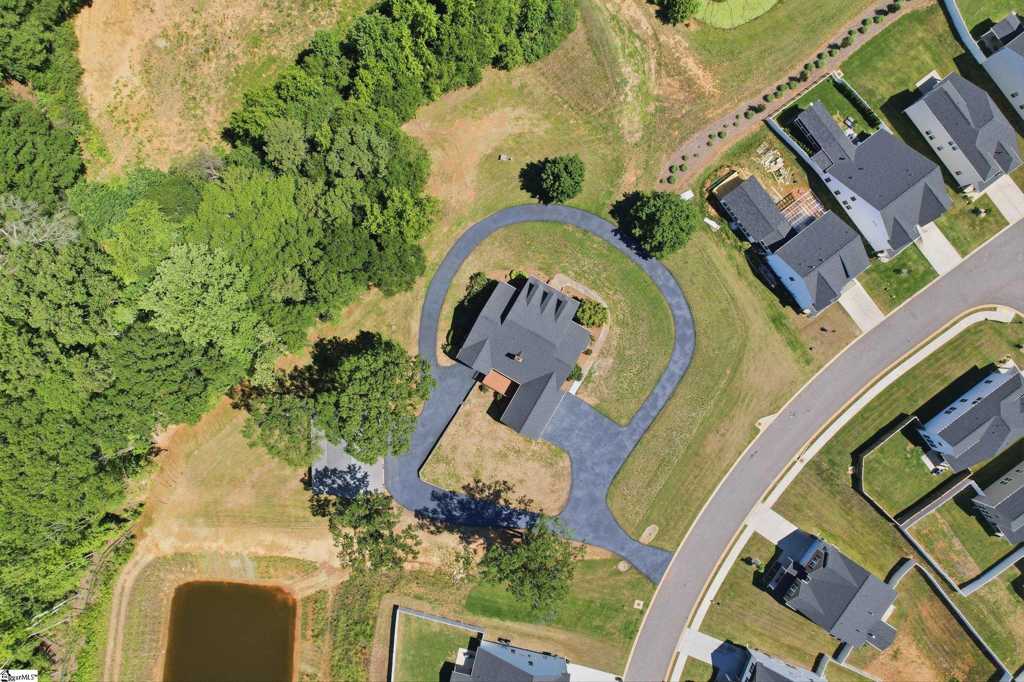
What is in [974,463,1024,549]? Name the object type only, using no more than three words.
house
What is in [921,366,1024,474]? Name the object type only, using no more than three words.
house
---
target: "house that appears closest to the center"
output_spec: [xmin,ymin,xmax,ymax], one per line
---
[456,275,592,441]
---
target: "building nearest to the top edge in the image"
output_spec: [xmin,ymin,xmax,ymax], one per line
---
[983,11,1024,108]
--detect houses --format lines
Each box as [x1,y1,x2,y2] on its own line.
[728,648,819,682]
[719,176,871,317]
[921,366,1024,474]
[777,539,900,653]
[794,100,953,259]
[449,642,570,682]
[906,71,1024,192]
[456,275,592,441]
[974,463,1024,549]
[983,11,1024,108]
